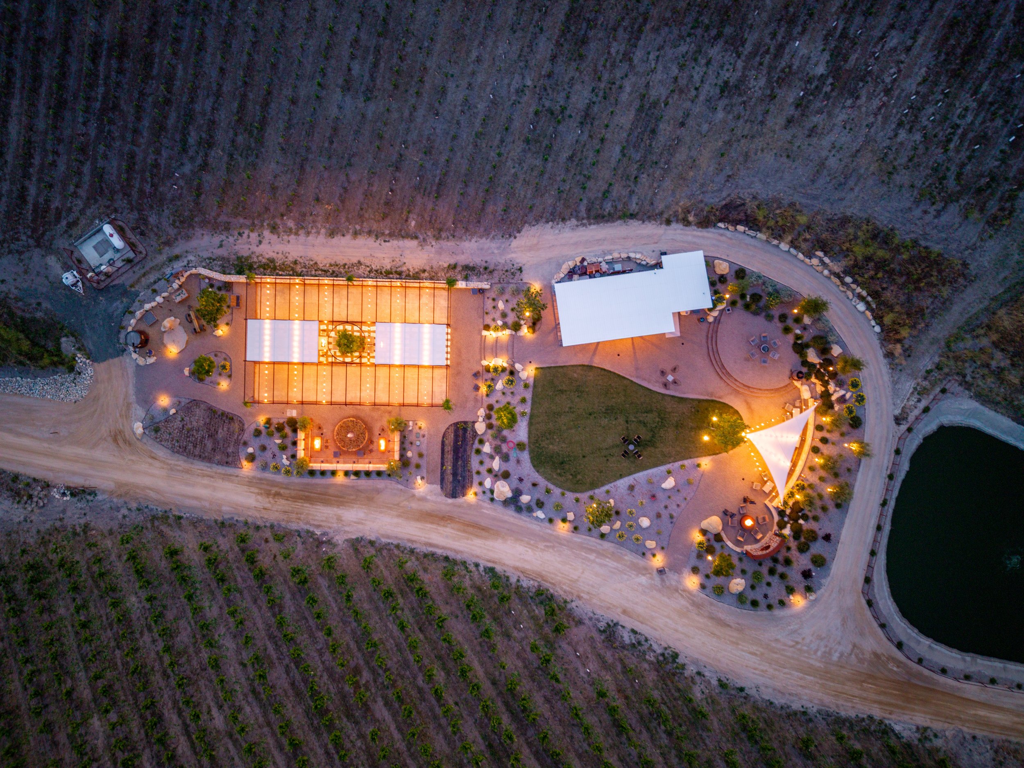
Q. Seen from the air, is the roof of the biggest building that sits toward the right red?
No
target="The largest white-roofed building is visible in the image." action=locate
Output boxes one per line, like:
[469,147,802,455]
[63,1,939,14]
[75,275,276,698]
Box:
[554,250,713,347]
